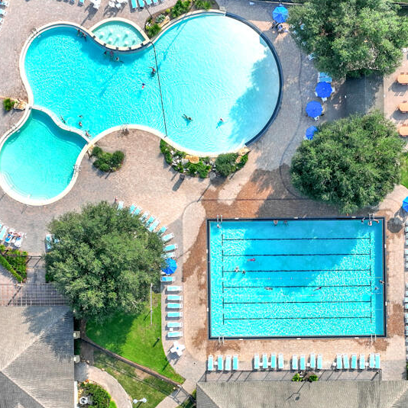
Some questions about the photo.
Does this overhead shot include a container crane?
No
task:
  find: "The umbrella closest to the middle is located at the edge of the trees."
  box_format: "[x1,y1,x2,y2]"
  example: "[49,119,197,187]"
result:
[161,258,177,274]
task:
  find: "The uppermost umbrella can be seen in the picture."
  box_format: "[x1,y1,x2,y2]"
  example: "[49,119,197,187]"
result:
[272,6,288,23]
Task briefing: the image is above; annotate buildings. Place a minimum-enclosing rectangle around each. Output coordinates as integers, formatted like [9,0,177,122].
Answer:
[0,309,78,408]
[197,381,408,408]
